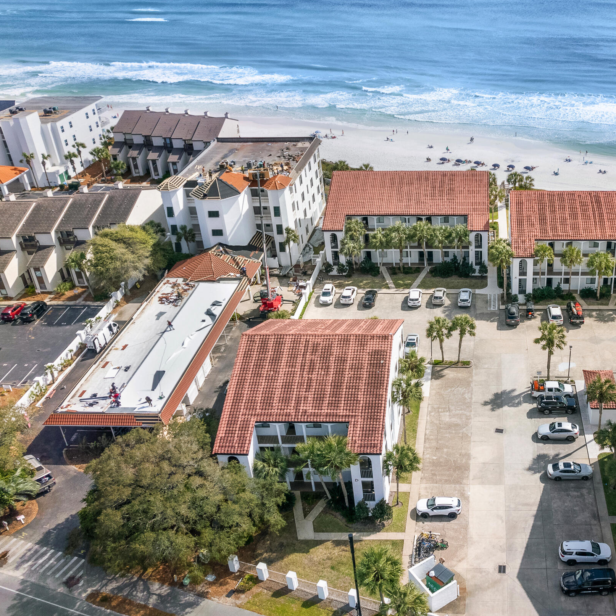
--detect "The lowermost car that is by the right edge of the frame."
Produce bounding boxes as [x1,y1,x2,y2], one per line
[559,566,616,596]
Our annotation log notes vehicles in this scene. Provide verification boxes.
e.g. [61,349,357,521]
[404,332,420,354]
[408,286,423,304]
[340,284,358,302]
[534,390,578,414]
[432,285,446,303]
[548,303,563,322]
[529,377,575,397]
[20,298,51,319]
[320,281,338,302]
[13,459,46,499]
[537,419,580,440]
[567,300,584,322]
[2,300,29,319]
[559,566,616,596]
[79,313,119,350]
[504,301,520,322]
[547,459,593,481]
[362,287,378,304]
[525,302,534,315]
[557,537,613,565]
[416,495,462,518]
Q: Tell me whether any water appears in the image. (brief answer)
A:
Yes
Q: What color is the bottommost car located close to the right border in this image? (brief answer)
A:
black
